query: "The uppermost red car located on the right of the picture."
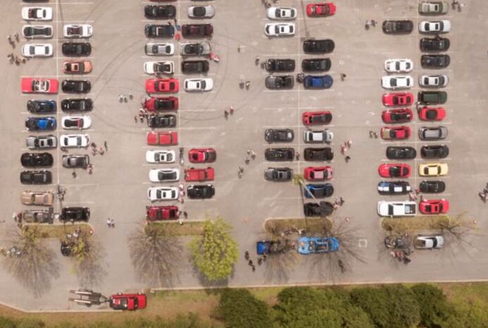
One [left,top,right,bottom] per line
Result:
[305,2,337,17]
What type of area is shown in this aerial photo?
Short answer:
parking lot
